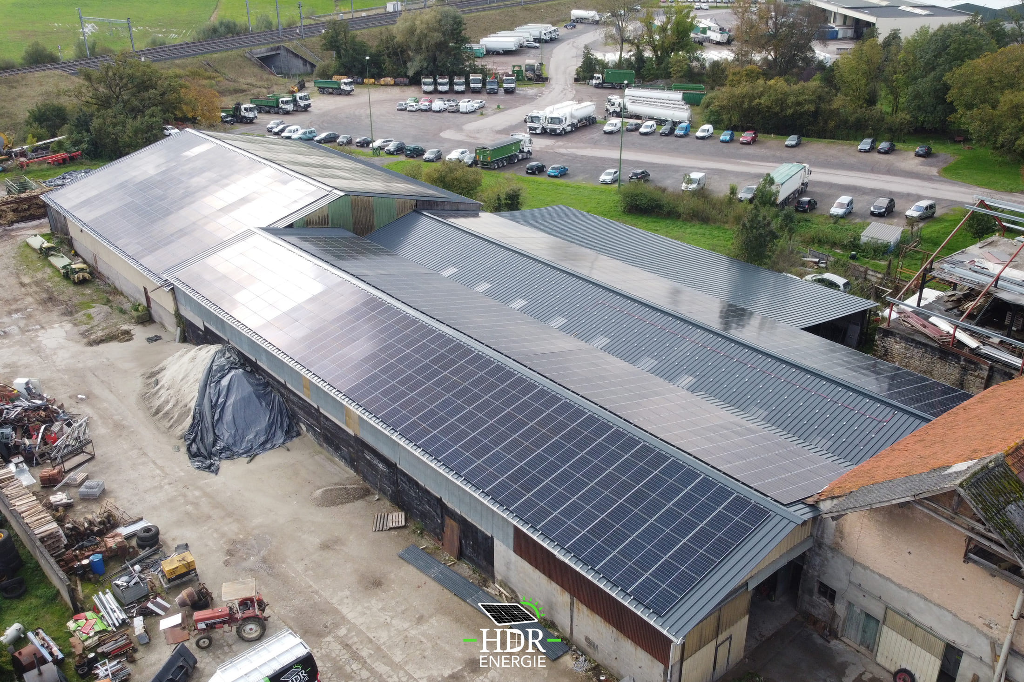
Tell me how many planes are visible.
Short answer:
0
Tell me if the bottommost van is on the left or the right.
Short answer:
left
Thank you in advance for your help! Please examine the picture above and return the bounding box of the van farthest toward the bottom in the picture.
[201,622,318,682]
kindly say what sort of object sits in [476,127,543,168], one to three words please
truck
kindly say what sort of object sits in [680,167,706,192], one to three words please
vehicle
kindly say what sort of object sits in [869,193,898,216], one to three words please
car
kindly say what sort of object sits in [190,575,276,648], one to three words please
work vehicle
